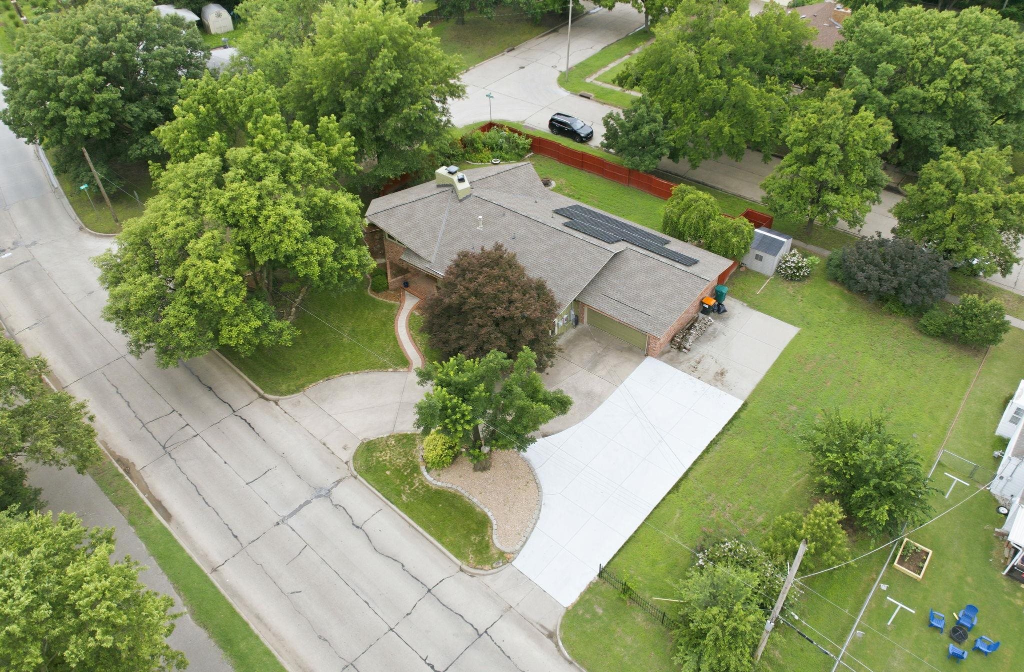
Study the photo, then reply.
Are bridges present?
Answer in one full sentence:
No, I can't see a single bridge in this photo.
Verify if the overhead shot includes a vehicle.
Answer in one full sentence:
Yes, the picture does show a vehicle.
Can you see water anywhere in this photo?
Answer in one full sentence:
No, the scene doesn't show any water.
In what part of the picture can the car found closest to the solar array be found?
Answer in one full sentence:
The car found closest to the solar array is in the top part of the image.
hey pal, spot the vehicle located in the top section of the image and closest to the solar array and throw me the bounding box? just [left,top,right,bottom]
[550,114,593,141]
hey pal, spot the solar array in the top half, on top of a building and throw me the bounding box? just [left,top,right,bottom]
[552,204,702,266]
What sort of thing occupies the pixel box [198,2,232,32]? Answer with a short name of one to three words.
shed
